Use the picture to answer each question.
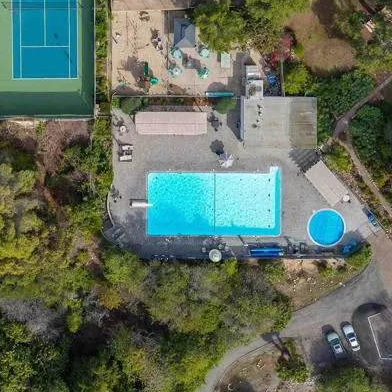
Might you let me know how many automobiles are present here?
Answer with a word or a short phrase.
2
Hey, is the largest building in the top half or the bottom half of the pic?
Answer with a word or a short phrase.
top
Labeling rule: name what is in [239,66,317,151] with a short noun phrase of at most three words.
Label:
building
